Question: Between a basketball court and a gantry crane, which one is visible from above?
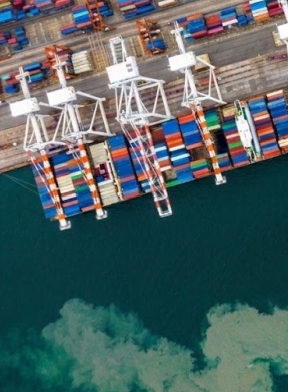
gantry crane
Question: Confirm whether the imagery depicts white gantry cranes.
Yes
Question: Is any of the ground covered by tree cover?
No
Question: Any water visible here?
Yes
